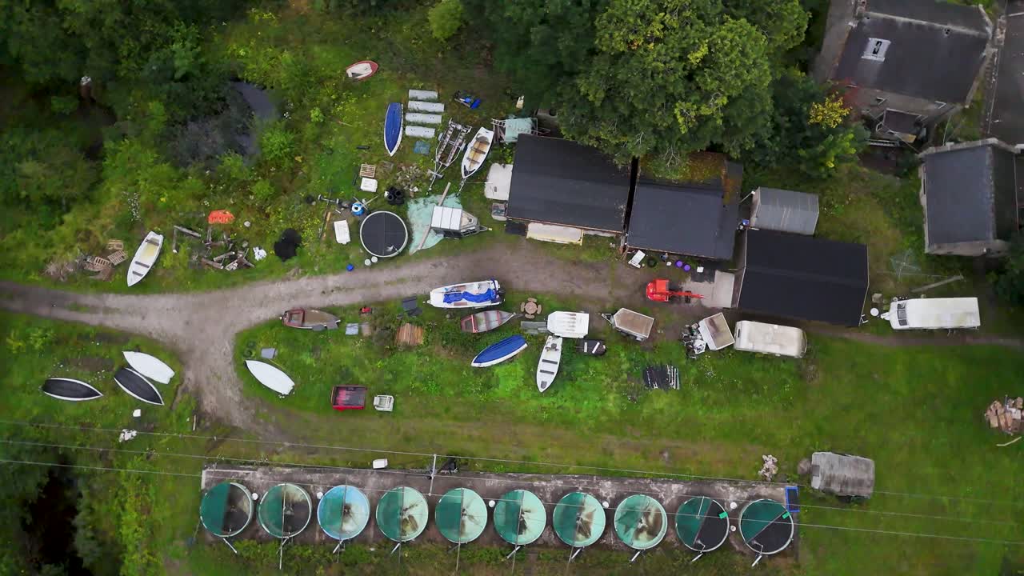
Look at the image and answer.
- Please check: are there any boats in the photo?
Yes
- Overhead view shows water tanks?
Yes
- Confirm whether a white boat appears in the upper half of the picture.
Yes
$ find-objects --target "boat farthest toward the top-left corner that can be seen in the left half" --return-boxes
[129,232,164,286]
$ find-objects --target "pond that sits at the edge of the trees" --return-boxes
[179,85,279,169]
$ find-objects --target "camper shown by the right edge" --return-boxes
[881,298,981,336]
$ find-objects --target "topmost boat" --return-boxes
[345,62,379,81]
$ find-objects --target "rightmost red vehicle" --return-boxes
[645,278,711,305]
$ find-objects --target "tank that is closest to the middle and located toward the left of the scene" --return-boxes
[360,211,408,257]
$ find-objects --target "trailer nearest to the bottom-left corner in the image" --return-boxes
[331,386,368,413]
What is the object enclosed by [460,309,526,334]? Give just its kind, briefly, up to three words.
boat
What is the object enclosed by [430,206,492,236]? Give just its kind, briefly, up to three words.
trailer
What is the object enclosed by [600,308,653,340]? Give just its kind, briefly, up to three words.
trailer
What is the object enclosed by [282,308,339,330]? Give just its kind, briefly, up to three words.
boat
